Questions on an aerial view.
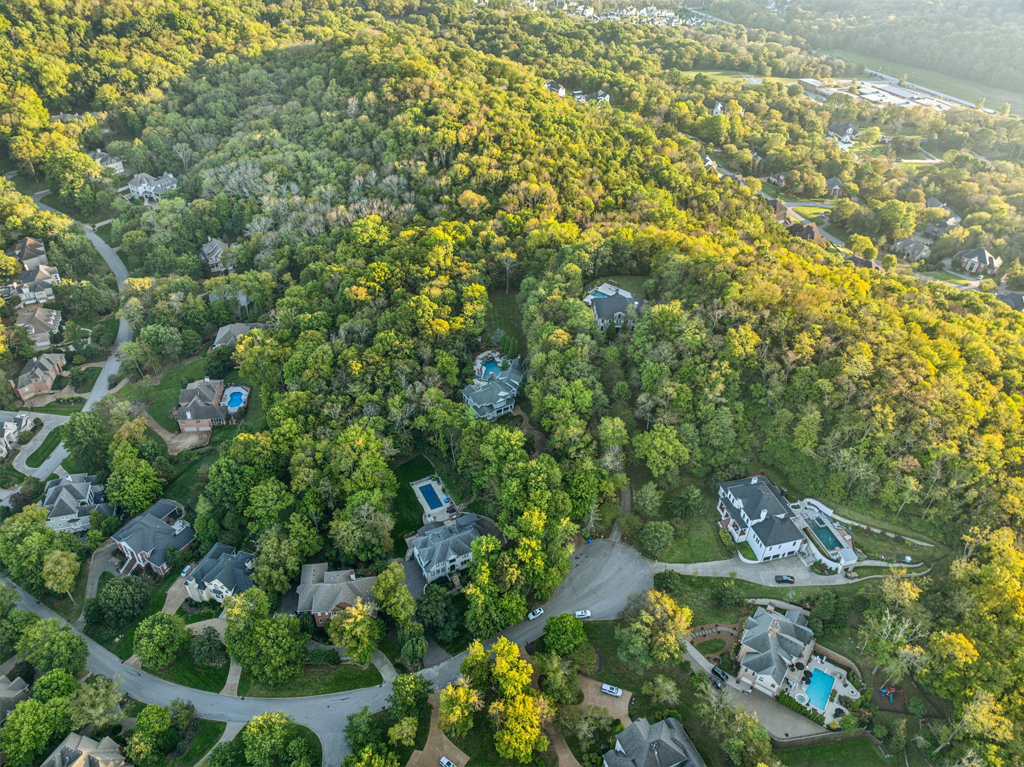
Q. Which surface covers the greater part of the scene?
trees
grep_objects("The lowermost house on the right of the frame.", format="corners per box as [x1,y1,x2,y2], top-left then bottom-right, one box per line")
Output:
[601,715,709,767]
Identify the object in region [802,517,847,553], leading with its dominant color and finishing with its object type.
blue swimming pool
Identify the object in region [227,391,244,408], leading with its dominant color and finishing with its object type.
blue swimming pool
